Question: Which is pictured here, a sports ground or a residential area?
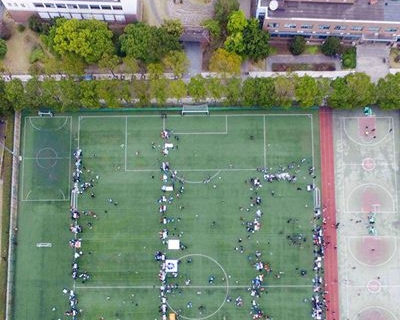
sports ground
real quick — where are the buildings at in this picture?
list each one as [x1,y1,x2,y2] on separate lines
[0,0,139,23]
[248,0,400,40]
